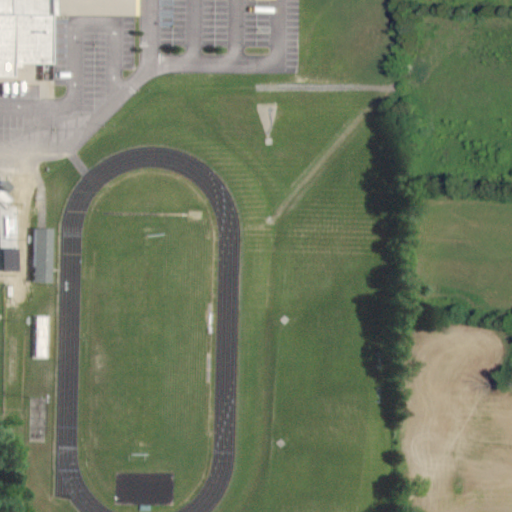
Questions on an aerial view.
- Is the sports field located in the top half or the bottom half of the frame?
bottom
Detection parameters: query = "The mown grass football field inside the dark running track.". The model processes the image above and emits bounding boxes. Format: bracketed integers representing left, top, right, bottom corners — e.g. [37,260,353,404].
[78,168,220,512]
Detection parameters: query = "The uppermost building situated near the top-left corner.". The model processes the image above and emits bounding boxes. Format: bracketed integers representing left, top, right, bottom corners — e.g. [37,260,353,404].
[0,0,140,76]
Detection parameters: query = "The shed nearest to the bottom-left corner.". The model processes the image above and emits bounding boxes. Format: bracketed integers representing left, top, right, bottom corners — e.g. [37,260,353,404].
[34,316,50,359]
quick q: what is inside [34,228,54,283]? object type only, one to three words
building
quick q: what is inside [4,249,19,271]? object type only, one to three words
building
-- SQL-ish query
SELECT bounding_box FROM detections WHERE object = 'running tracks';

[55,146,242,512]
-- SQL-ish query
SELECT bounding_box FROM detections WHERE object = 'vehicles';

[3,82,10,98]
[245,6,276,14]
[56,72,72,78]
[12,82,18,98]
[7,284,13,298]
[20,80,27,96]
